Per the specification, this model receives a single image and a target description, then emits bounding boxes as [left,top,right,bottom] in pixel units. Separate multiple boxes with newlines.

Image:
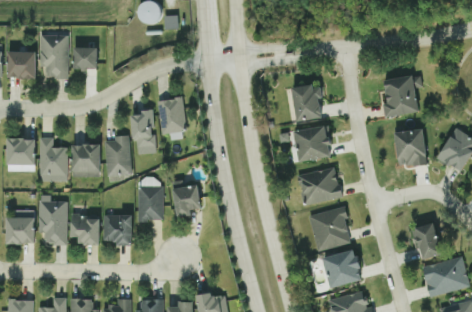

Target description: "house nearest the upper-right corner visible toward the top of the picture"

[382,75,423,118]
